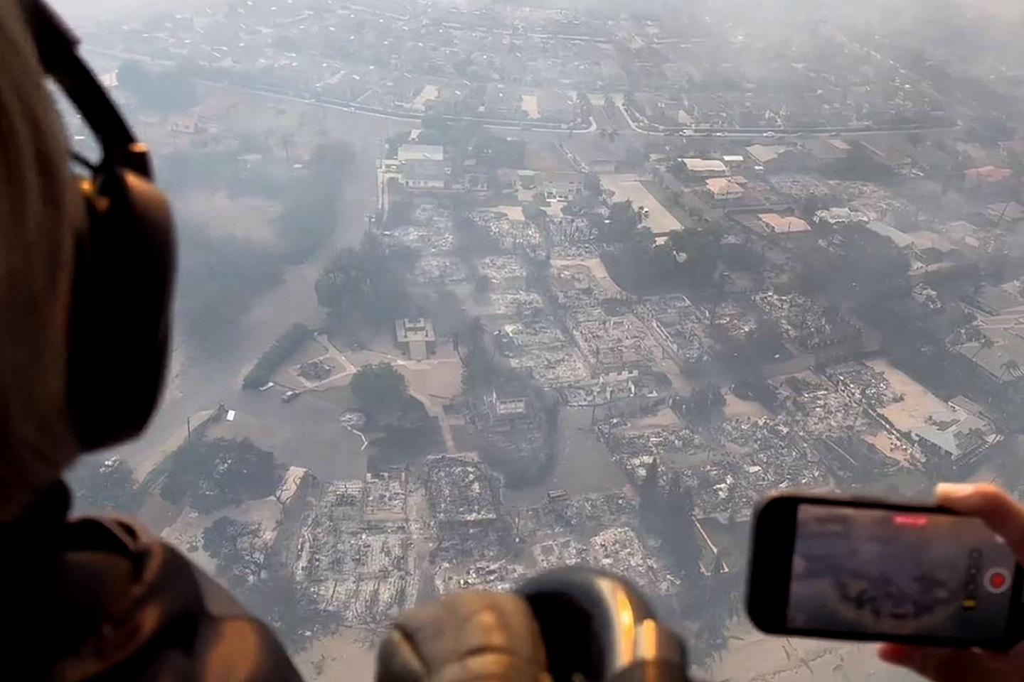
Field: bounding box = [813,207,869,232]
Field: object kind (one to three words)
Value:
house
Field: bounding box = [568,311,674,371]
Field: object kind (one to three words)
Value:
house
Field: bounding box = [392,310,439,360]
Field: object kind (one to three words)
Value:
building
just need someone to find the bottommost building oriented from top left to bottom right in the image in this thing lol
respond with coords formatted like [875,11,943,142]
[590,524,676,595]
